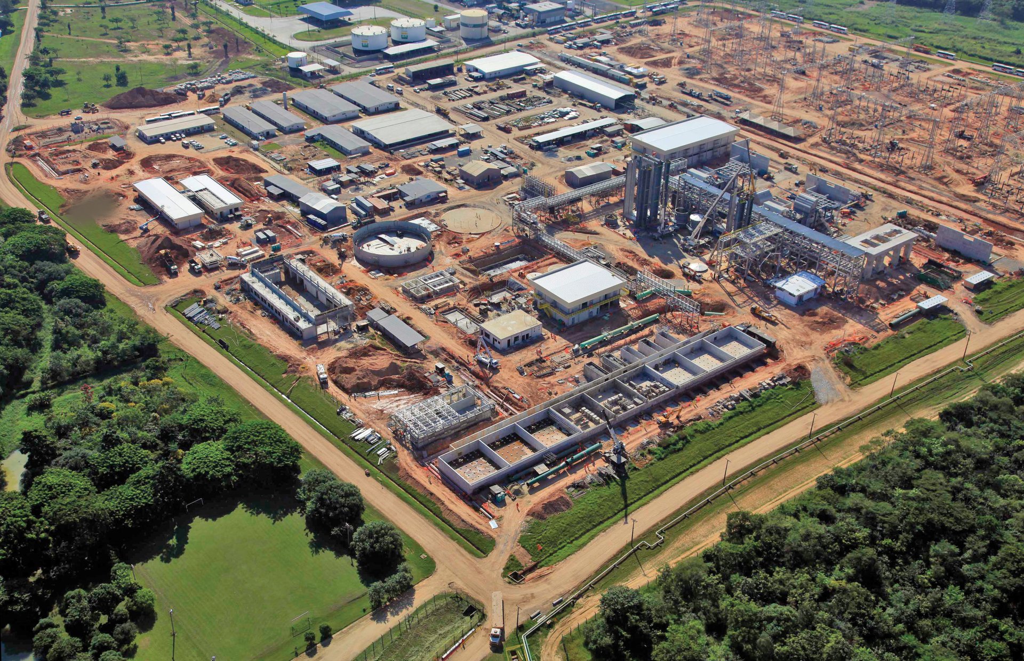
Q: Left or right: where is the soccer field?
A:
left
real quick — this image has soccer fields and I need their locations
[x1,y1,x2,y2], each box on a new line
[108,489,397,661]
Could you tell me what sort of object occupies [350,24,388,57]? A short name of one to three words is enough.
storage tank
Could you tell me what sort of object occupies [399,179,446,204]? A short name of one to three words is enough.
building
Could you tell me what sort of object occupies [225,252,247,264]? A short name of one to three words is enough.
vehicle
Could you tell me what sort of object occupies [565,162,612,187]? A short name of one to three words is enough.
shed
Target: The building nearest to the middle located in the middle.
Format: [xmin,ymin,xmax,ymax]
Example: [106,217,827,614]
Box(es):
[481,310,541,351]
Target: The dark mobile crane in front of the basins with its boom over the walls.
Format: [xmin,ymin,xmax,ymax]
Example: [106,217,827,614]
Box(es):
[600,410,635,478]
